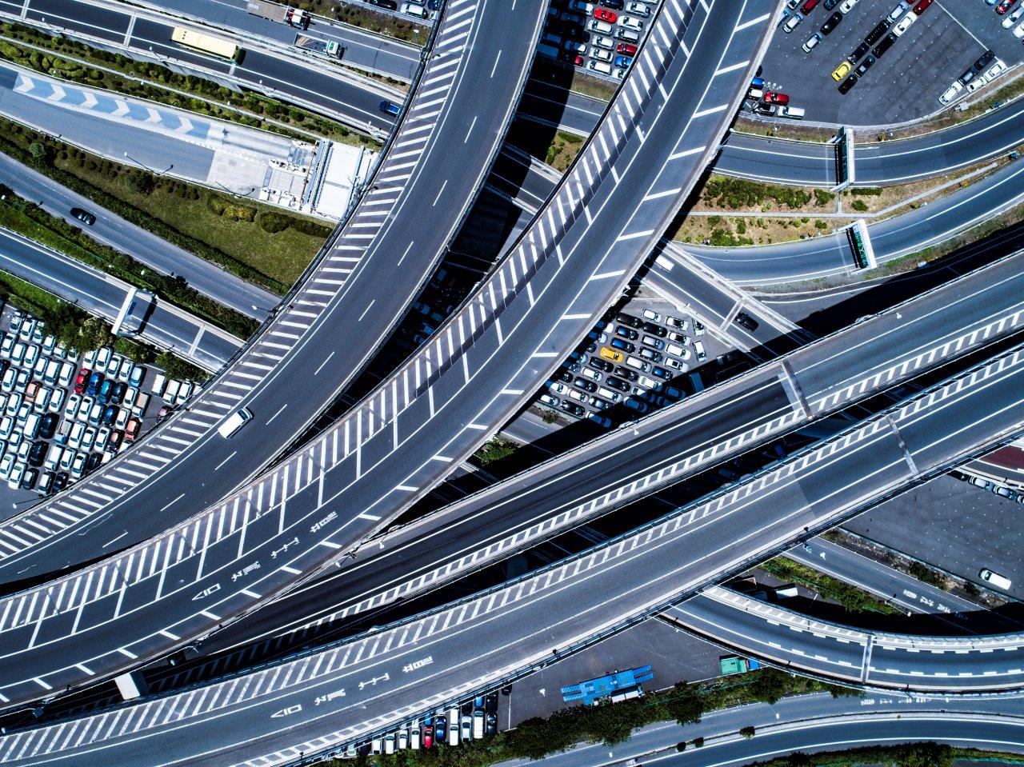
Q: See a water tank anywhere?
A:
No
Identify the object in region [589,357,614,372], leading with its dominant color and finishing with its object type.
black car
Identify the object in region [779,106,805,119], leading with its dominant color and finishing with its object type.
white vehicle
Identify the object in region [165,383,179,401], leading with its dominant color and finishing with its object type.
white vehicle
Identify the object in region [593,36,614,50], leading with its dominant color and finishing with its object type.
white car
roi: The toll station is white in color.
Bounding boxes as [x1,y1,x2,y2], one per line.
[257,138,377,222]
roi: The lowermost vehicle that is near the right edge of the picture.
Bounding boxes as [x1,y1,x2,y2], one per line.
[978,567,1013,589]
